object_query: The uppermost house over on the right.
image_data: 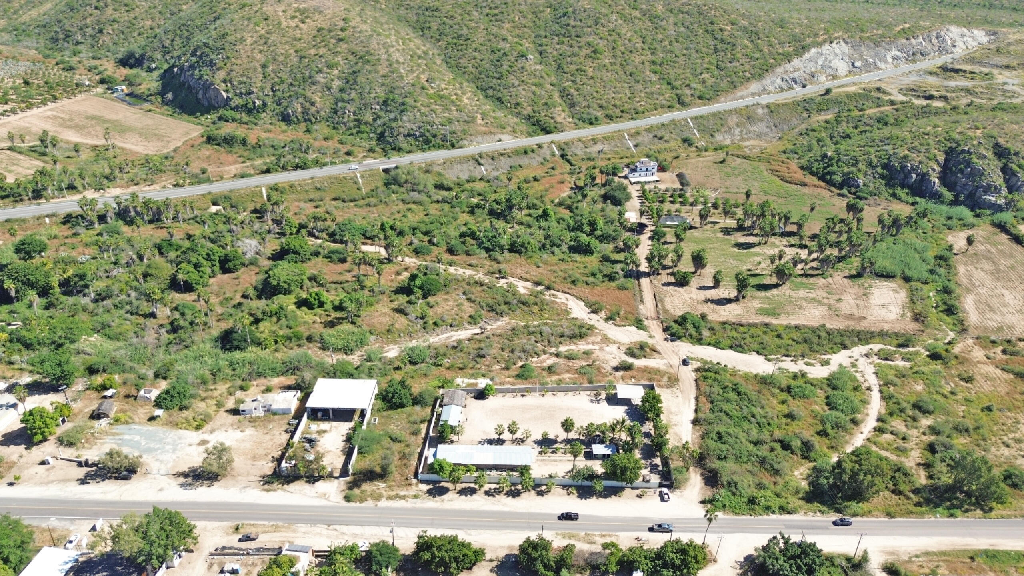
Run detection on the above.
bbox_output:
[627,158,658,182]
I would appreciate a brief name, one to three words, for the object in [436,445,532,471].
shed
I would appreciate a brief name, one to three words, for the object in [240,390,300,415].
house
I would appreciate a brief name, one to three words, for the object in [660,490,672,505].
vehicle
